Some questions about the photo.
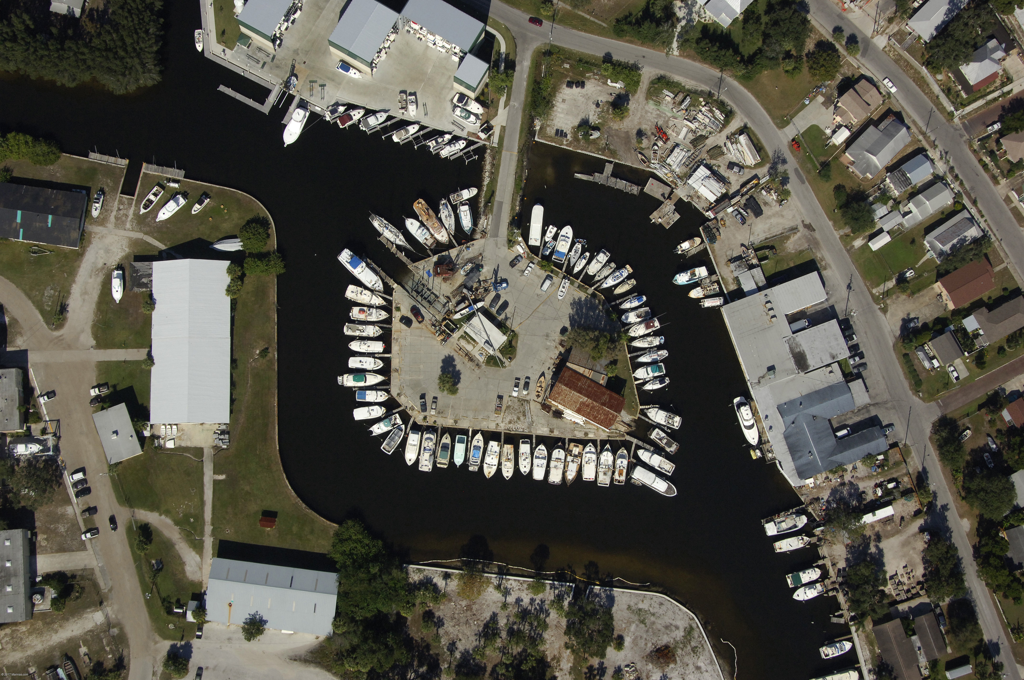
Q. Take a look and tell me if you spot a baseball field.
No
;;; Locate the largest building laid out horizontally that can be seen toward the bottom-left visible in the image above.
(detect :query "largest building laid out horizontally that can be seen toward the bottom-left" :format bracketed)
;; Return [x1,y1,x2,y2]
[206,558,339,635]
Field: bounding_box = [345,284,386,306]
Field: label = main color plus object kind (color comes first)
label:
white boat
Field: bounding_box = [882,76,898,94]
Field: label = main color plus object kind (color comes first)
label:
white car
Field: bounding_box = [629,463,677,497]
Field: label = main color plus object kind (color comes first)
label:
white boat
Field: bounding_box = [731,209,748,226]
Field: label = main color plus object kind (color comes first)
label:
gray vehicle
